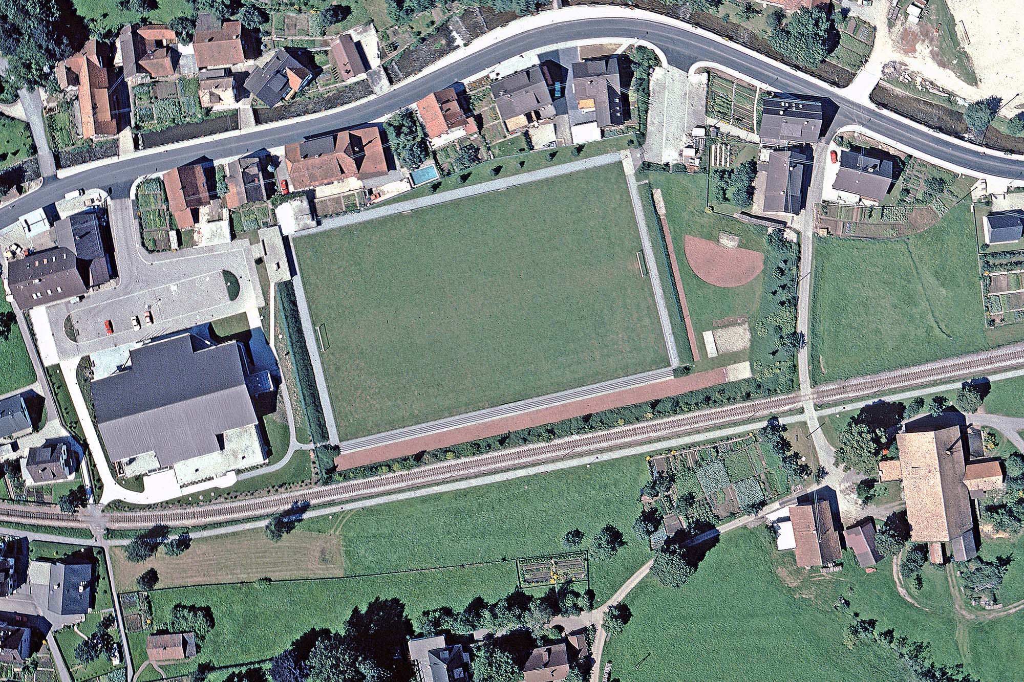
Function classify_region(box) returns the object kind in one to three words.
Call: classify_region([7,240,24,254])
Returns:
work vehicle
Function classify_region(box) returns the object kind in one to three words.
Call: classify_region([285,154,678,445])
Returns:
soccer field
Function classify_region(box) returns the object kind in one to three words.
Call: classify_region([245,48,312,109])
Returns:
house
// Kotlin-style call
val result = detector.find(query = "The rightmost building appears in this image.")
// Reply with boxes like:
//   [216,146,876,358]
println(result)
[984,212,1023,243]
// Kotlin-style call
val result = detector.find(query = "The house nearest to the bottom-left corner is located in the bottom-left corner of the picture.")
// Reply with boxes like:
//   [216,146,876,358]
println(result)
[0,625,29,664]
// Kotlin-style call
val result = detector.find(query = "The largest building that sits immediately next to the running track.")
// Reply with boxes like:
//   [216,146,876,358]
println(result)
[90,334,274,484]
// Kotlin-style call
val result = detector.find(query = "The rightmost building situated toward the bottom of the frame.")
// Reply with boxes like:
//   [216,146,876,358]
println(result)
[878,425,1003,563]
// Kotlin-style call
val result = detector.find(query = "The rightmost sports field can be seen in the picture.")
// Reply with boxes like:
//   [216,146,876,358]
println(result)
[684,233,764,286]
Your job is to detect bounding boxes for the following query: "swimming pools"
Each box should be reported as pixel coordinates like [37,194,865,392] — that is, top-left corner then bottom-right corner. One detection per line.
[410,164,439,185]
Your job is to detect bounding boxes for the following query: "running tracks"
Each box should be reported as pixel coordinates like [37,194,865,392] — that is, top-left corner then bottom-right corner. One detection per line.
[335,369,727,471]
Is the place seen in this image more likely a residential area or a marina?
residential area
